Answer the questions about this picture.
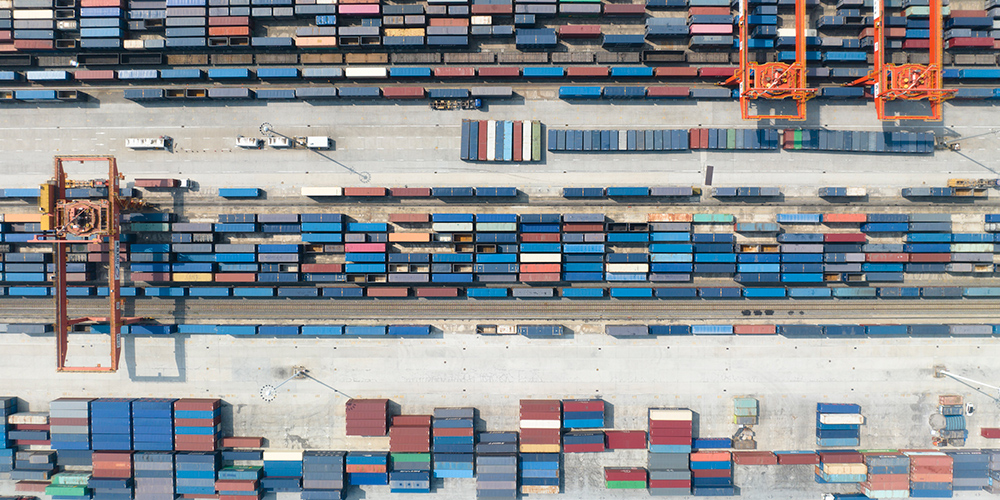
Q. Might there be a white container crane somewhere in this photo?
No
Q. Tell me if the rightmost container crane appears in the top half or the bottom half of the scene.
top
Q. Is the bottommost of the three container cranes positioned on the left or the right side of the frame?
left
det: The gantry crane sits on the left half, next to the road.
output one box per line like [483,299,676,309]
[21,153,163,373]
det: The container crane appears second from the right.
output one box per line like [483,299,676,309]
[709,0,828,123]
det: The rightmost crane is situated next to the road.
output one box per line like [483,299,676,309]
[834,0,968,123]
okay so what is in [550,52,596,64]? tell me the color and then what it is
gray rail car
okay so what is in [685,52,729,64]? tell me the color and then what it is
gray rail car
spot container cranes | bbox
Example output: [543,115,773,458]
[834,0,968,123]
[709,0,828,123]
[21,153,163,373]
